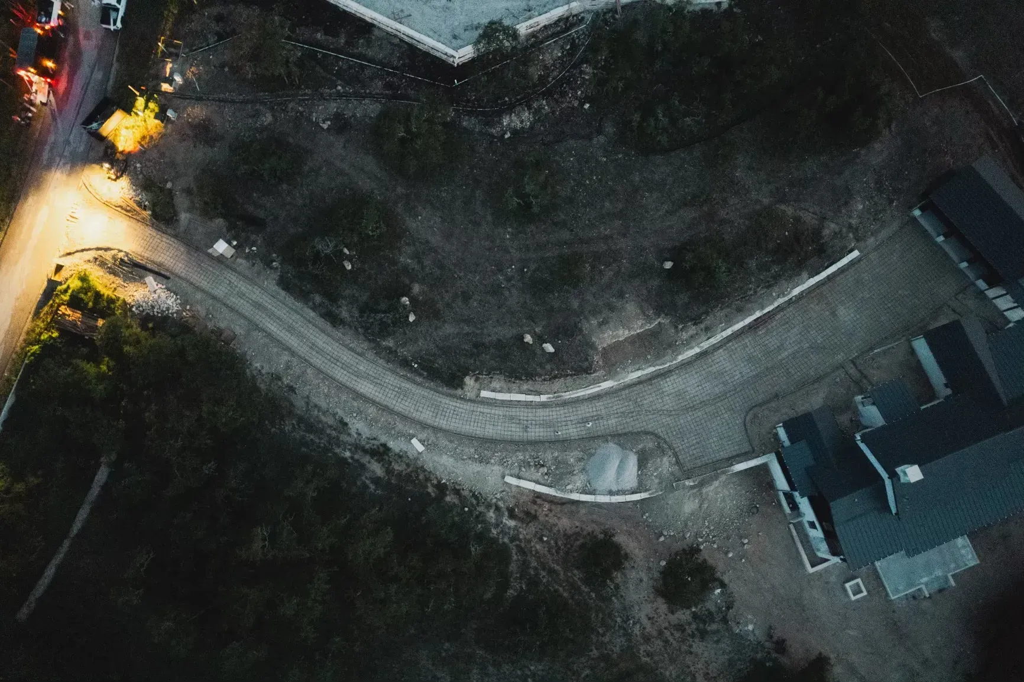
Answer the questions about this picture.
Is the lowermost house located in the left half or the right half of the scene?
right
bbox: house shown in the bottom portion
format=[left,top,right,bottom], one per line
[769,314,1024,571]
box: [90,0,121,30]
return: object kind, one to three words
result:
truck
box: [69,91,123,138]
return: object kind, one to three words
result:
trailer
